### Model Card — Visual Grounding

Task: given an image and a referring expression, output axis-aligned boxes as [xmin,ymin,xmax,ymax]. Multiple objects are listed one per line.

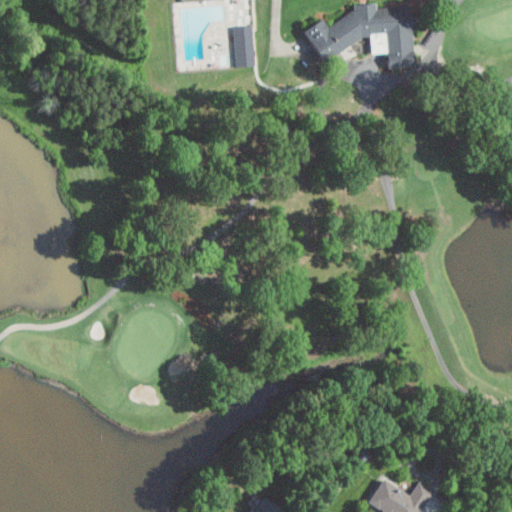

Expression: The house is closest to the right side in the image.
[370,483,432,512]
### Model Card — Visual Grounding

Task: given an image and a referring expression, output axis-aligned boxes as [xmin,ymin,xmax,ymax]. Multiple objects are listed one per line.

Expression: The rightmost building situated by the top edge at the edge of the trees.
[304,3,415,67]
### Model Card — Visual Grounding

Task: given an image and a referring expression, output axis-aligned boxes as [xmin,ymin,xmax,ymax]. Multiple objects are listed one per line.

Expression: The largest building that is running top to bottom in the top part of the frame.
[234,26,254,68]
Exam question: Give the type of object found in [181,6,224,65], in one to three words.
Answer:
swimming pool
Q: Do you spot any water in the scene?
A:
Yes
